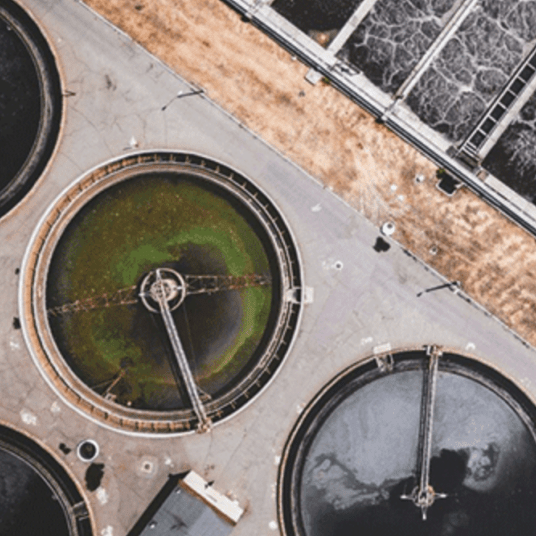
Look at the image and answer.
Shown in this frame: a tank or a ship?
tank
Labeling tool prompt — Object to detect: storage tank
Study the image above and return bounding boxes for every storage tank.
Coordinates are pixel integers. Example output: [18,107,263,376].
[277,345,536,536]
[0,0,63,224]
[0,424,96,536]
[18,151,312,437]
